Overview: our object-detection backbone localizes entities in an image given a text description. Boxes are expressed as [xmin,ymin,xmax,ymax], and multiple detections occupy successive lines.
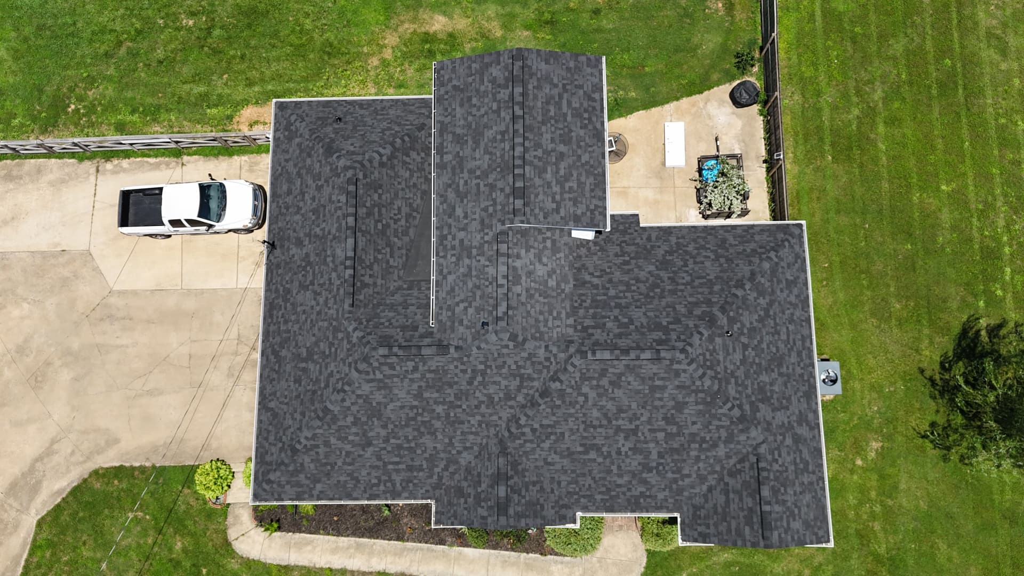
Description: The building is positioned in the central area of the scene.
[251,48,832,549]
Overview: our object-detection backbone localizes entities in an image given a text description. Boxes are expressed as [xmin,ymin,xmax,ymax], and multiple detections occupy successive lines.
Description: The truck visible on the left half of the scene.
[117,172,267,237]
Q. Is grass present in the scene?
Yes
